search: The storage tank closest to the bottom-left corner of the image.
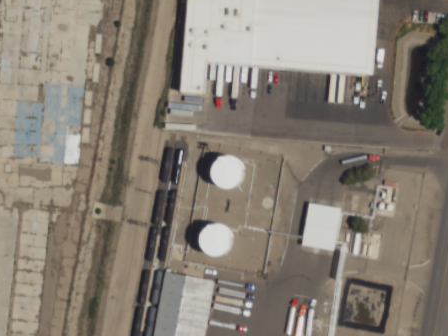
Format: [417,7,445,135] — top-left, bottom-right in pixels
[200,222,235,258]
